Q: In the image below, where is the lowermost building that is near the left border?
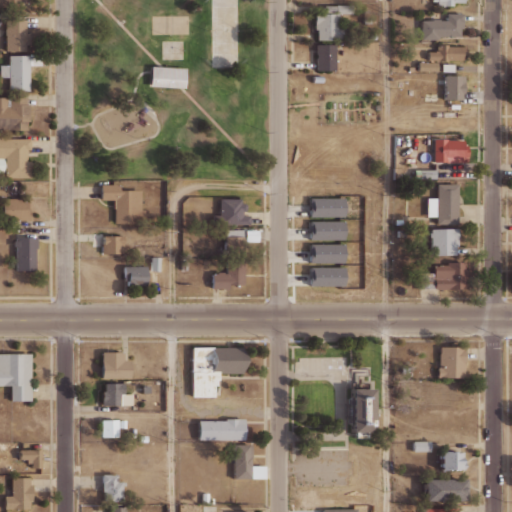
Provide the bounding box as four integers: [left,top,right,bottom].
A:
[6,478,35,512]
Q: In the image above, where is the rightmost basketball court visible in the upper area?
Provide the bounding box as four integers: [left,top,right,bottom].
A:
[212,0,238,67]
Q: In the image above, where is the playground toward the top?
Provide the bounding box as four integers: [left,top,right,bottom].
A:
[94,105,158,146]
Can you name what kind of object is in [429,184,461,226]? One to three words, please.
house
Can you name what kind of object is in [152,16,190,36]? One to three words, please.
sports court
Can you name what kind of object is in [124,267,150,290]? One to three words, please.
house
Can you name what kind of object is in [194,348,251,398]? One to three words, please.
building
